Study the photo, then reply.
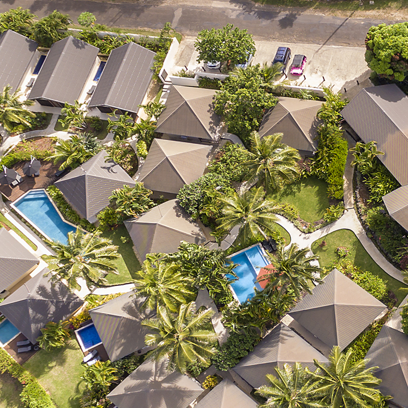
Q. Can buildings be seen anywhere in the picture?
Yes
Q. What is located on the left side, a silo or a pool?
pool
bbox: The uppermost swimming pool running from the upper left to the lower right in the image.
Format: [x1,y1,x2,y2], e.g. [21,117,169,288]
[7,187,89,260]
